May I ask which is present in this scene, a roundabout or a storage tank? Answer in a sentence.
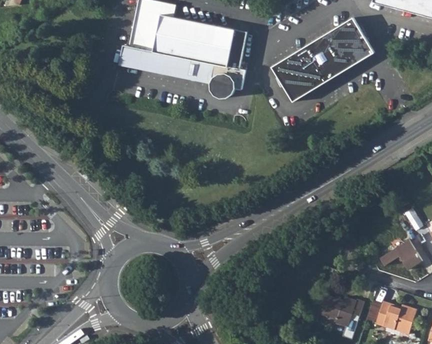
I can see a roundabout in this picture.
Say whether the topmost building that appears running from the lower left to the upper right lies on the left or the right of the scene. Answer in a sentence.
The topmost building that appears running from the lower left to the upper right is on the right side of the image.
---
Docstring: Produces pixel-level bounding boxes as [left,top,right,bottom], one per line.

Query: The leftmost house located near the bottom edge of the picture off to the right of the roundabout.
[322,294,365,328]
